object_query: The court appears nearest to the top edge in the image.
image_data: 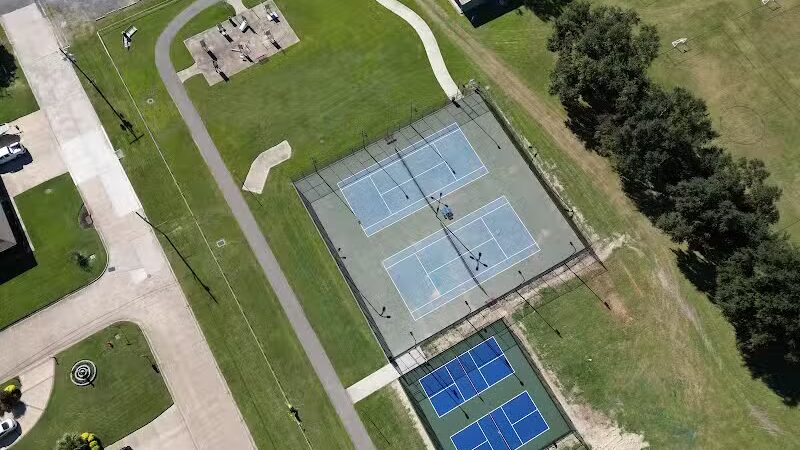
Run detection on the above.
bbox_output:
[338,123,488,237]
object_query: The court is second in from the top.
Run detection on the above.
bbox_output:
[384,196,541,320]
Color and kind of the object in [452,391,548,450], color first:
blue sports court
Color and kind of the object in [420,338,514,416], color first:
blue sports court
